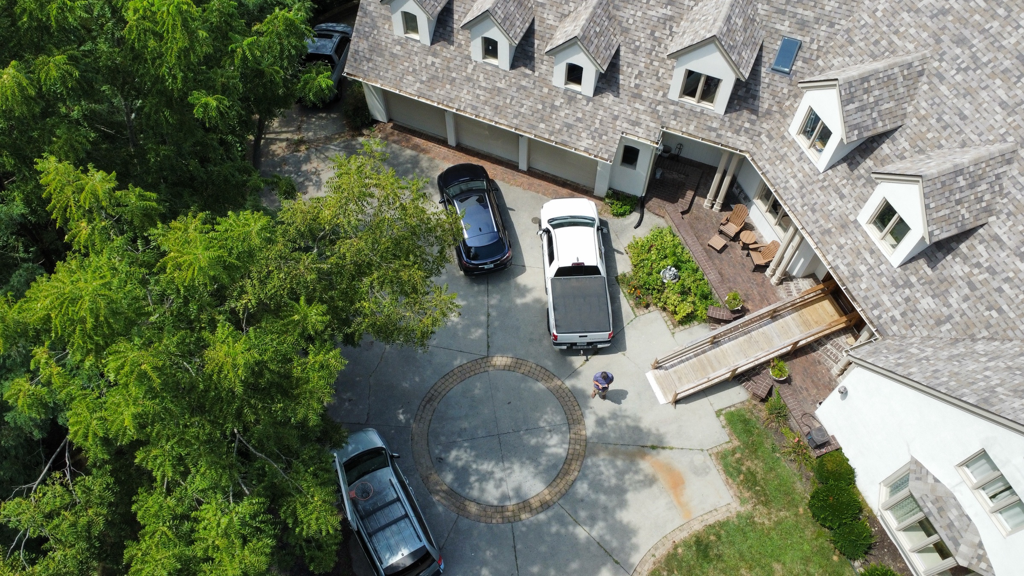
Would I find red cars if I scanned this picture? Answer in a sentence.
No, there is no red car in the image.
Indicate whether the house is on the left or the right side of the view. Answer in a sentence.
The house sits on the right side.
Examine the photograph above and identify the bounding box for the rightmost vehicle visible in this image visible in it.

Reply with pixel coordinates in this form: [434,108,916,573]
[538,198,616,360]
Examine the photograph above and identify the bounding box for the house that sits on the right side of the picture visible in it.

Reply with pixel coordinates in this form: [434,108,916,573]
[344,0,1024,576]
